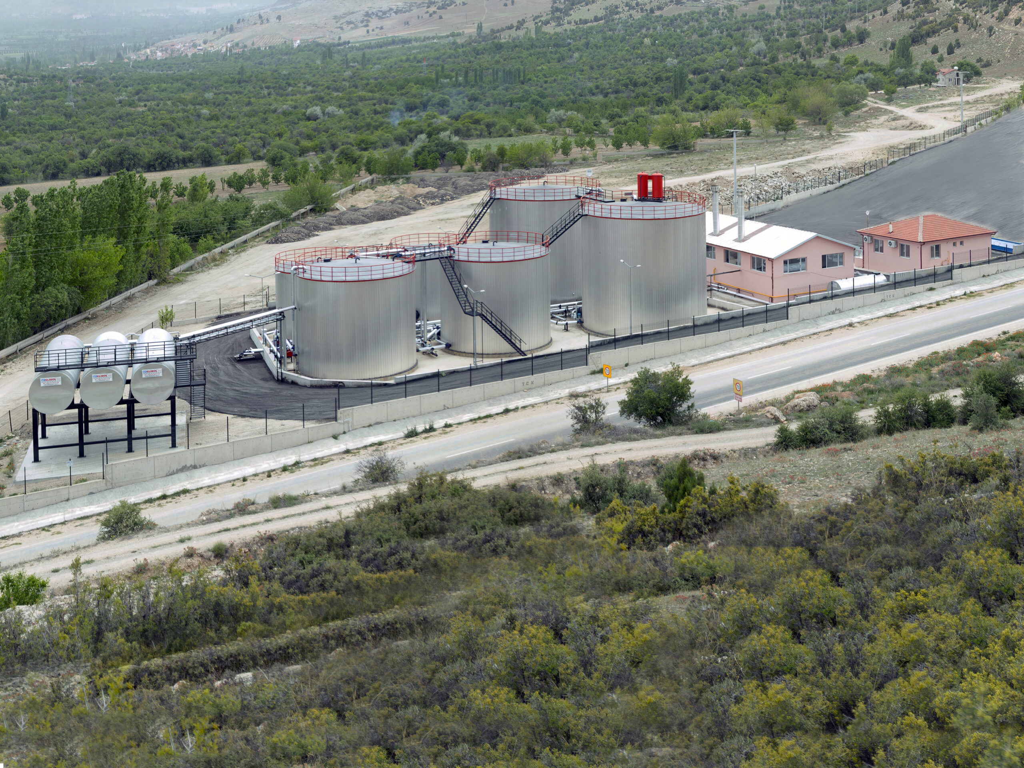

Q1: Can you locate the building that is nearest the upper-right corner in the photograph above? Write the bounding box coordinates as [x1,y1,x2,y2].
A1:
[935,63,964,86]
